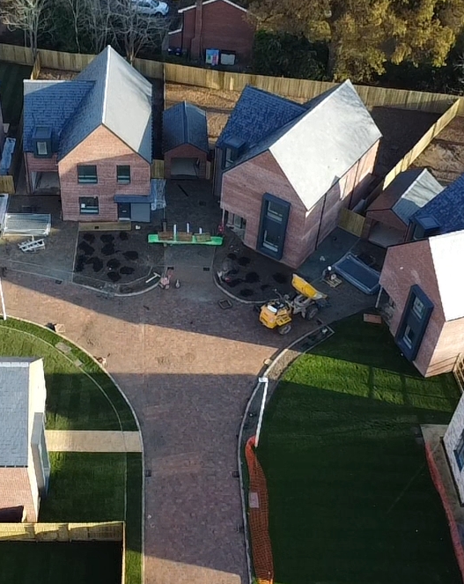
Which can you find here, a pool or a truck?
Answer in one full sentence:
The image shows a truck.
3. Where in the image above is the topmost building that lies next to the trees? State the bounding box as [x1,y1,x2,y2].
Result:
[157,0,262,58]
